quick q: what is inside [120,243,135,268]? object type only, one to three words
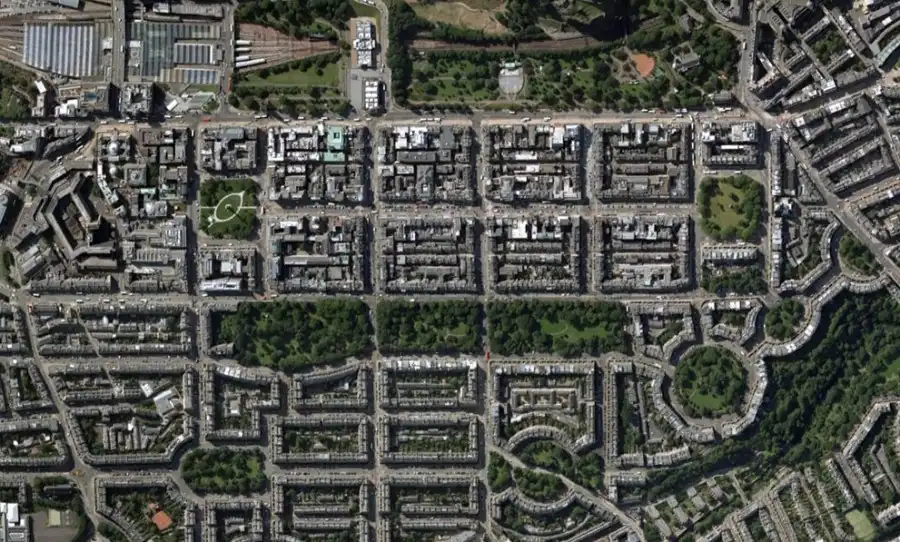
building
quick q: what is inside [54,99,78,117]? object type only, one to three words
house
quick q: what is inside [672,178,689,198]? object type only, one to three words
building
